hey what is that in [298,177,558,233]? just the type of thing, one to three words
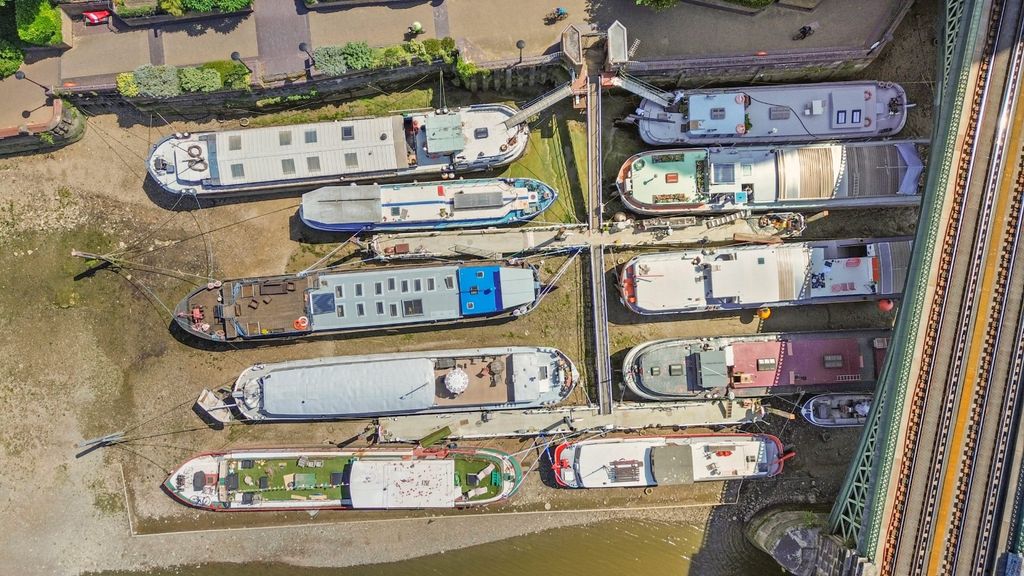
boat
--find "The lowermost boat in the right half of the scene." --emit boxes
[550,429,801,491]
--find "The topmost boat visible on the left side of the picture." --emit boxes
[145,103,529,195]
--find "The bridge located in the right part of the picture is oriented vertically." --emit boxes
[822,0,1024,576]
